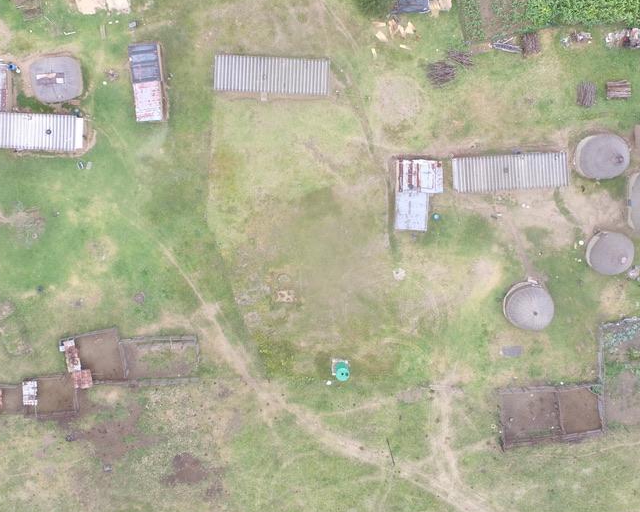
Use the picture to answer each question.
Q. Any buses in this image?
No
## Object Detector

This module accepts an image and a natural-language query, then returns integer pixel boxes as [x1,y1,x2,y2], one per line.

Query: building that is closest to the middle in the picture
[393,160,443,231]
